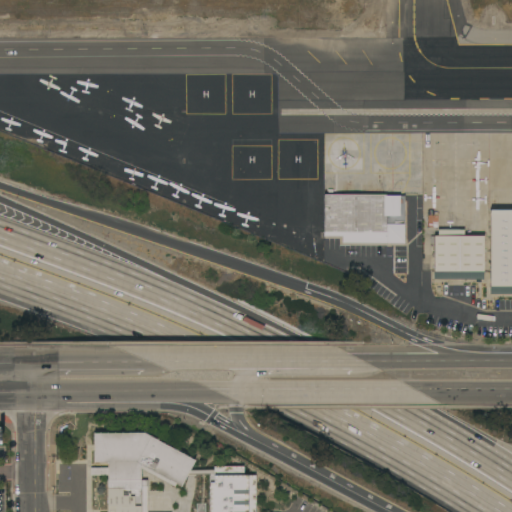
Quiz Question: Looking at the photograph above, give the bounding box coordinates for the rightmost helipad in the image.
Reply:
[278,140,318,180]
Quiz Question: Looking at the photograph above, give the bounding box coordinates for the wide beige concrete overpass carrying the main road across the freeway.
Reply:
[0,341,452,408]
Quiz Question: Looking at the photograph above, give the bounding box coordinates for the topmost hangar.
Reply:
[323,194,406,244]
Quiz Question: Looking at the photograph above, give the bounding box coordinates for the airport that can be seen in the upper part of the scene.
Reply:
[0,0,512,311]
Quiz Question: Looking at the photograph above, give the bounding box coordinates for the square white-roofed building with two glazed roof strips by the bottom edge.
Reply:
[210,466,257,512]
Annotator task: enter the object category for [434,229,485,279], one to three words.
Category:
hangar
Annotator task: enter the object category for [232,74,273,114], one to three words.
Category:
helipad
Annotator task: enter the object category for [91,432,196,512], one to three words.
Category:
building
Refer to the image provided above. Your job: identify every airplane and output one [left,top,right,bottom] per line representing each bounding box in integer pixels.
[124,112,144,130]
[0,117,20,130]
[54,137,68,152]
[124,167,144,181]
[474,151,490,172]
[122,96,144,112]
[213,202,236,218]
[474,191,487,209]
[236,210,258,226]
[147,173,168,190]
[152,112,172,128]
[32,128,53,142]
[76,80,98,94]
[78,146,98,161]
[169,180,190,198]
[60,87,80,104]
[191,192,213,208]
[425,186,439,208]
[474,173,488,190]
[39,75,60,90]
